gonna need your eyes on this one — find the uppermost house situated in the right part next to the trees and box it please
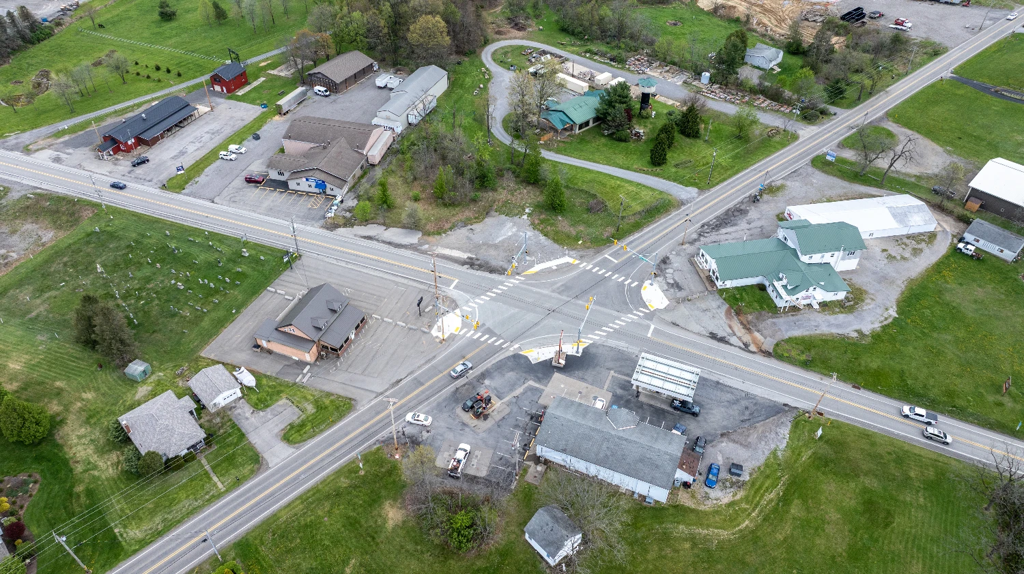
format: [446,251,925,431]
[745,42,783,68]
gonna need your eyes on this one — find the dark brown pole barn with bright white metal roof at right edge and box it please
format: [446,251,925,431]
[964,150,1024,223]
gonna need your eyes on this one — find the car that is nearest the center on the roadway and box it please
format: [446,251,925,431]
[448,360,474,376]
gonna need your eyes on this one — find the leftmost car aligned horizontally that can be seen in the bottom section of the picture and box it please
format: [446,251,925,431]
[404,410,433,425]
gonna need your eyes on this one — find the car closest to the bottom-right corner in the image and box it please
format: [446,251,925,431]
[923,423,956,445]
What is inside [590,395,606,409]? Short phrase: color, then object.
white car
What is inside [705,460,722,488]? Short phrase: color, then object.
blue car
